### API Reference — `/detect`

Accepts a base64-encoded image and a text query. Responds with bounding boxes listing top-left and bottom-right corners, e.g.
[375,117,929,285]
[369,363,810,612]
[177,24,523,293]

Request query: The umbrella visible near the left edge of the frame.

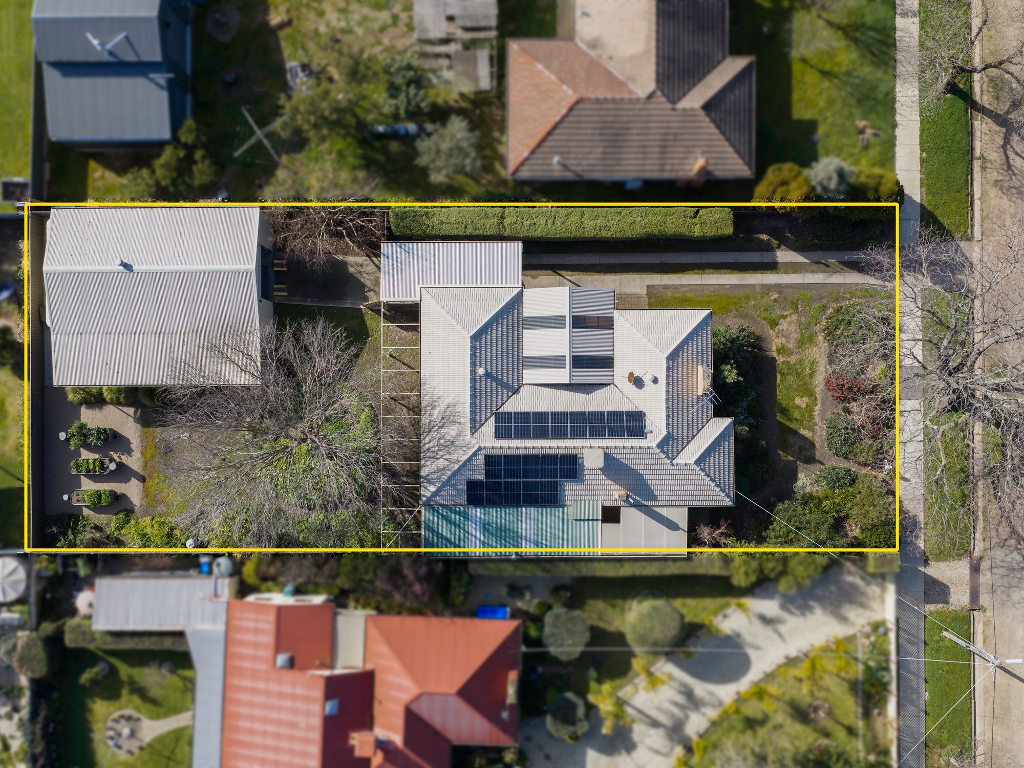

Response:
[0,558,29,598]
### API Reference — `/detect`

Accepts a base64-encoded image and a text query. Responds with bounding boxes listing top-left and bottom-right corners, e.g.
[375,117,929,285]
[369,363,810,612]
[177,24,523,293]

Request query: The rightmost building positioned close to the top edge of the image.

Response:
[504,0,758,181]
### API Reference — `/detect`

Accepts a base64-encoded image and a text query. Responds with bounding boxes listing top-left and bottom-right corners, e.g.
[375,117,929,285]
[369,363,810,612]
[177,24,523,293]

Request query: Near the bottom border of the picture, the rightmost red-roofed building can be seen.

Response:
[226,594,524,768]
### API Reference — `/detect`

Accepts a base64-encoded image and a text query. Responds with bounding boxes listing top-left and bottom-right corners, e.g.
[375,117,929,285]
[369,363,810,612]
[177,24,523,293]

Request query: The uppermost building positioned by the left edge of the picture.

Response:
[32,0,191,152]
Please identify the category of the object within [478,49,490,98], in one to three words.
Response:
shed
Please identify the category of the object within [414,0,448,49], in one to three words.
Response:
shed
